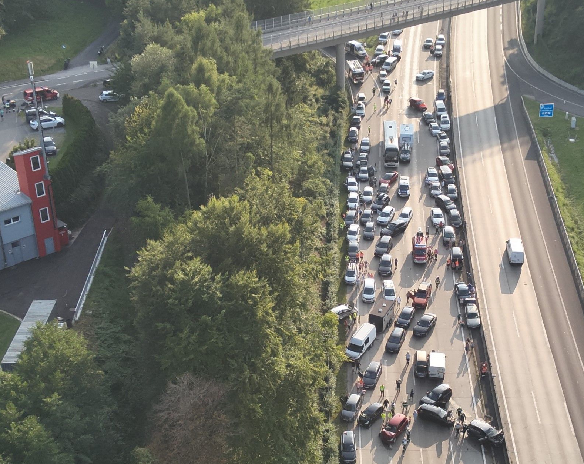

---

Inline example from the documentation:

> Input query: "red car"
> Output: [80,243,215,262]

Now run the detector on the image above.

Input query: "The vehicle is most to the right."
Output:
[507,239,524,262]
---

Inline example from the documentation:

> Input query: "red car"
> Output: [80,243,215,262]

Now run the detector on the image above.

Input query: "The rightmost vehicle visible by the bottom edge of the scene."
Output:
[467,414,503,445]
